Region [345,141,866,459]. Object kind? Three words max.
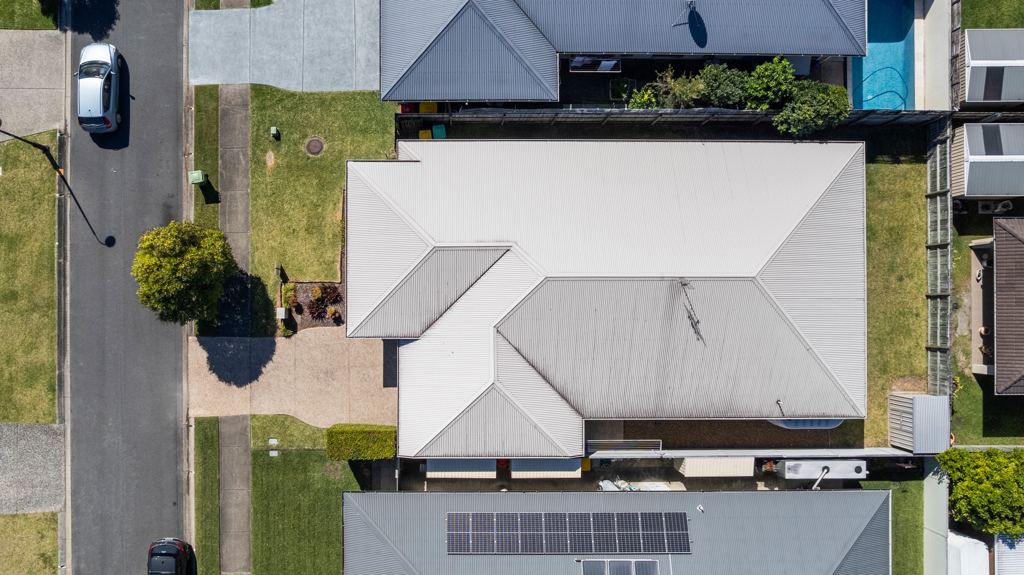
house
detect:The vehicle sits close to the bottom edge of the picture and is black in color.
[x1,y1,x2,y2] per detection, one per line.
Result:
[147,537,188,575]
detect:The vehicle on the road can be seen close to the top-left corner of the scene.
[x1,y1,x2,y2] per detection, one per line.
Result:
[73,42,123,133]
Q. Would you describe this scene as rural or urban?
urban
